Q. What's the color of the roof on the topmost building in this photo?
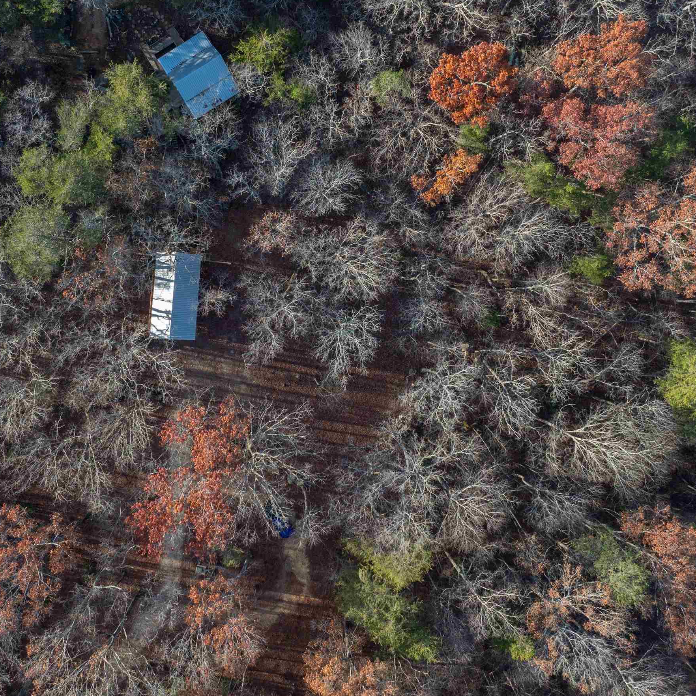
blue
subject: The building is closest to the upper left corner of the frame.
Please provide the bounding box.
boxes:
[140,21,239,120]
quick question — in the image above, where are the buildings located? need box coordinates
[140,21,239,120]
[149,251,202,340]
